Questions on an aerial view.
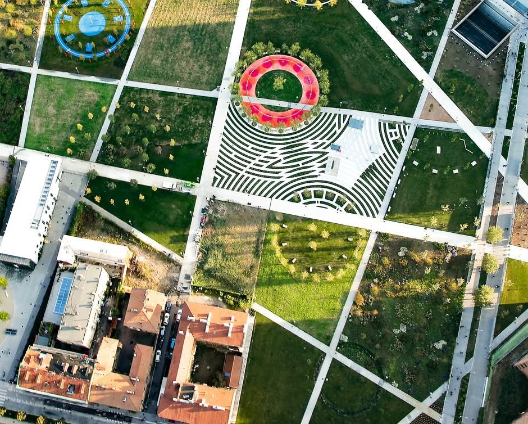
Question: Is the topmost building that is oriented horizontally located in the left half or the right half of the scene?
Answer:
left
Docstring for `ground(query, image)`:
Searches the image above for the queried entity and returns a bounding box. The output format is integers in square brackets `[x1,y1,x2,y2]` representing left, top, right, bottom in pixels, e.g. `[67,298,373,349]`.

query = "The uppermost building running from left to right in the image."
[55,233,132,268]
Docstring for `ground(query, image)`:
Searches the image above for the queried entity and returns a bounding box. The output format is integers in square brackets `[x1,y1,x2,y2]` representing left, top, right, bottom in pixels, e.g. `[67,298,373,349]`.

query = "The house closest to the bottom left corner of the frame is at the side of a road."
[15,346,97,402]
